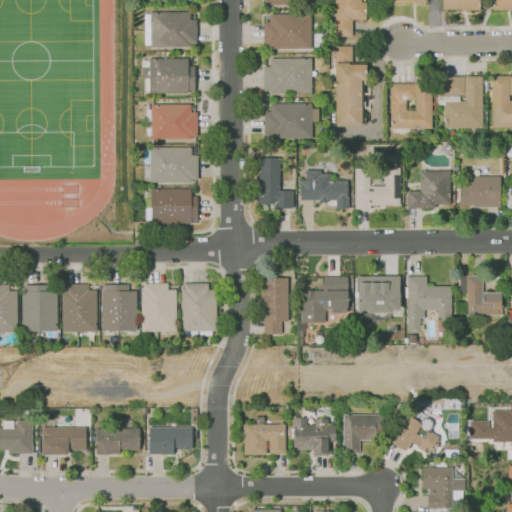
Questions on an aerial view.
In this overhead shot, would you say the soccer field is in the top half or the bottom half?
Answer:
top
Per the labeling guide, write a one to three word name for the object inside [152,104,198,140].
house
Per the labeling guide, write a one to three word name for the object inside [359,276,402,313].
house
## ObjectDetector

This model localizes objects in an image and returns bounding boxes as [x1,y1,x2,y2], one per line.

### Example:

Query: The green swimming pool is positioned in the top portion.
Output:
[424,154,451,168]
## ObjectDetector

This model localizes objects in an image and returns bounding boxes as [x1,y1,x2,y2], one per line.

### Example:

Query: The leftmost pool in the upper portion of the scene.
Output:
[374,146,401,167]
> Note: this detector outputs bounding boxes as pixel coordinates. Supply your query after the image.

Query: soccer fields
[0,0,100,179]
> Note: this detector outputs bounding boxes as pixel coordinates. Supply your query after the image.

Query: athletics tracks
[0,0,115,240]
